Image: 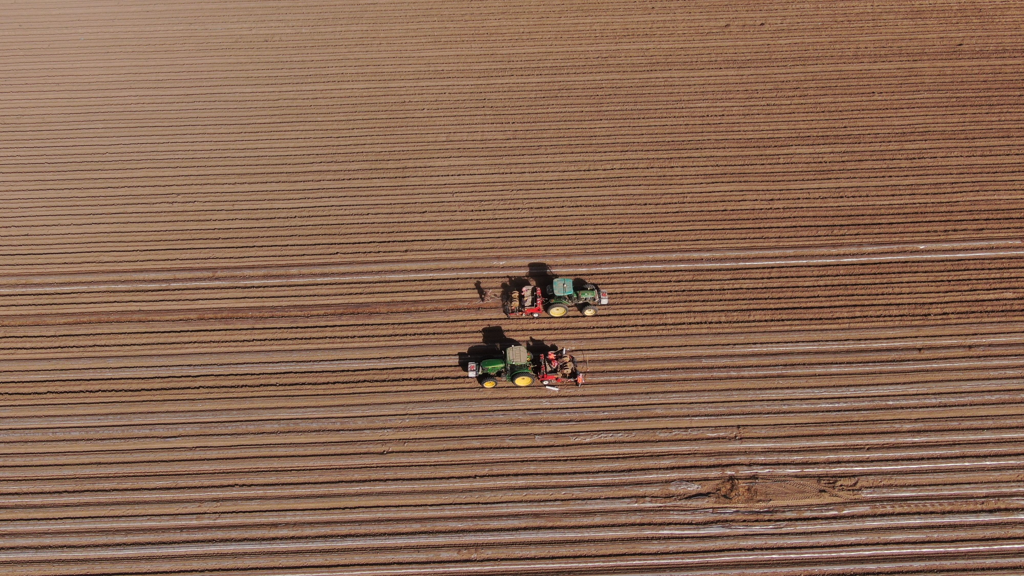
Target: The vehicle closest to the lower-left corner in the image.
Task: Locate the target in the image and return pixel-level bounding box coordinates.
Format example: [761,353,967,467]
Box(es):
[468,344,538,388]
